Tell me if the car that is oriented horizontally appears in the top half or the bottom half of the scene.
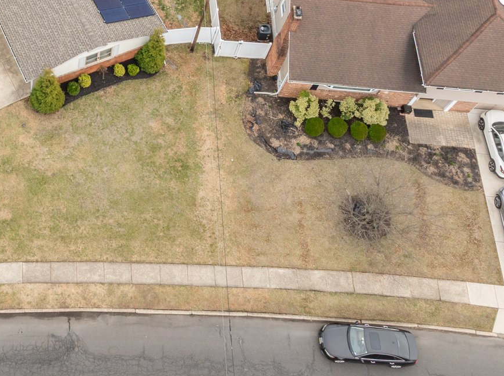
bottom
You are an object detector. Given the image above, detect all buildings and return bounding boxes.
[0,0,169,94]
[248,0,504,114]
